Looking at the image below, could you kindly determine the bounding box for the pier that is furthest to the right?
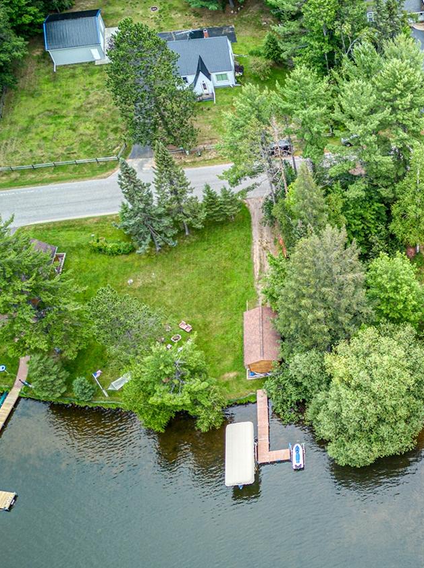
[256,387,291,467]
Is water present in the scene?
Yes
